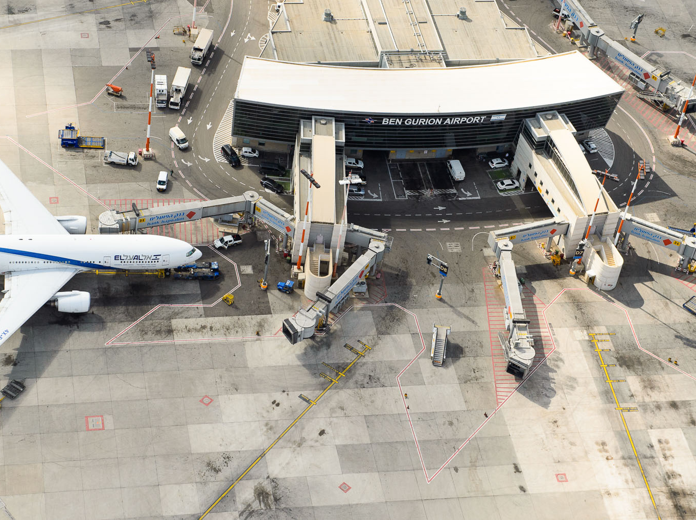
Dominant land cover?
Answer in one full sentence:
For the most part, this view shows paved ground.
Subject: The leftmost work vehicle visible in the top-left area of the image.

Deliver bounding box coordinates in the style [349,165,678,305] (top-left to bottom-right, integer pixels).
[58,124,104,149]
